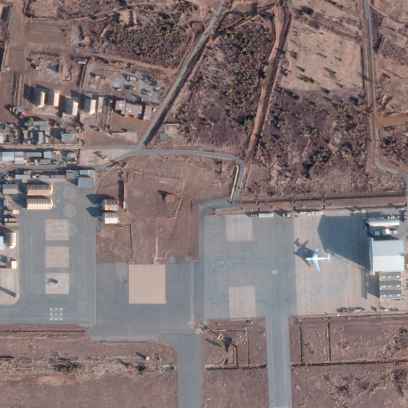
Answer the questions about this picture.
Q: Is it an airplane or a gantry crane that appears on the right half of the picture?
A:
airplane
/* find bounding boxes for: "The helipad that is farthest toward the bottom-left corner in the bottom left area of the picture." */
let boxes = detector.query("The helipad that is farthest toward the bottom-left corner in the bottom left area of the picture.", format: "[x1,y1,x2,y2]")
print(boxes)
[49,308,63,321]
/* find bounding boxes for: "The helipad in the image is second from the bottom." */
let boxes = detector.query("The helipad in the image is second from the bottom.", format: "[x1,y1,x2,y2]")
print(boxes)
[46,272,68,294]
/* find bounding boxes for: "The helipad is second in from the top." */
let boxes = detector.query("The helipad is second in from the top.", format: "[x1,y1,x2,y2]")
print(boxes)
[46,247,68,267]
